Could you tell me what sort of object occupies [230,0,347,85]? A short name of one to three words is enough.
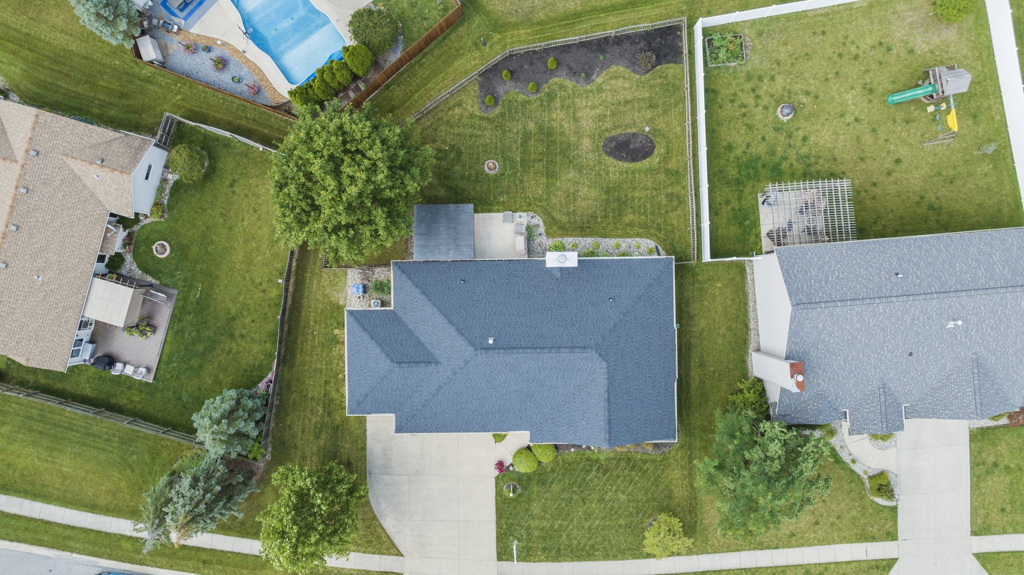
swimming pool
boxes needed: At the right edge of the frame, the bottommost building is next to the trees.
[750,233,1024,437]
